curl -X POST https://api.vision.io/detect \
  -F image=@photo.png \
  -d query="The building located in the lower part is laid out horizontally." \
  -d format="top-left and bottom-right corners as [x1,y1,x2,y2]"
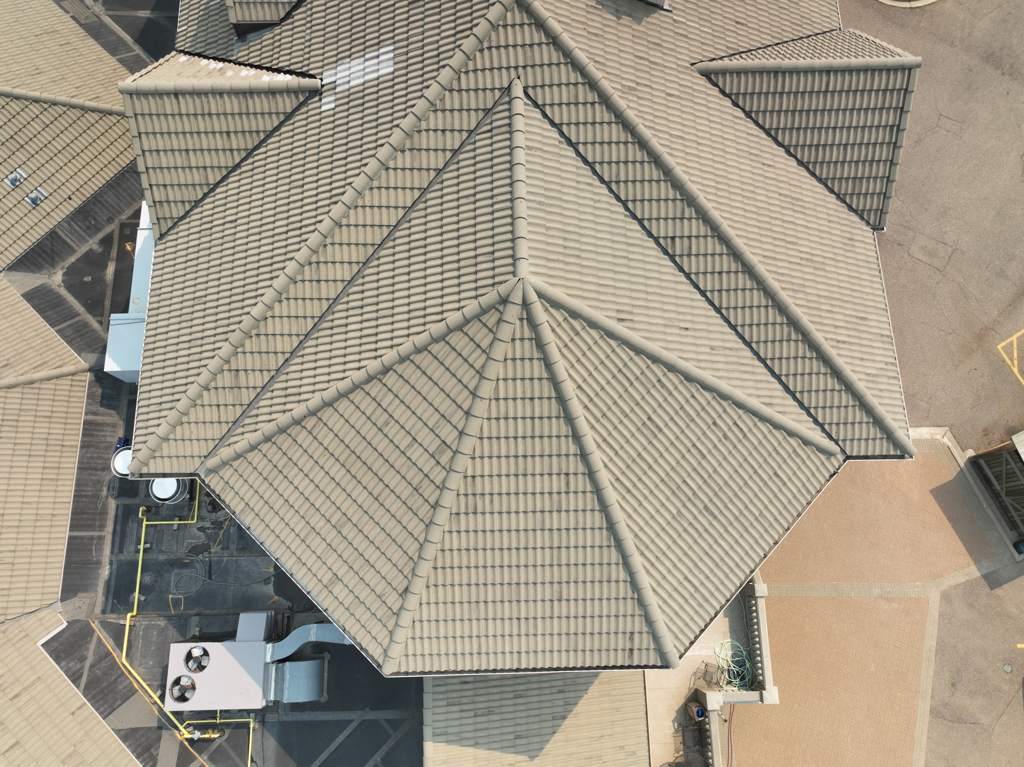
[424,670,654,767]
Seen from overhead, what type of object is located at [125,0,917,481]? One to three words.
building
